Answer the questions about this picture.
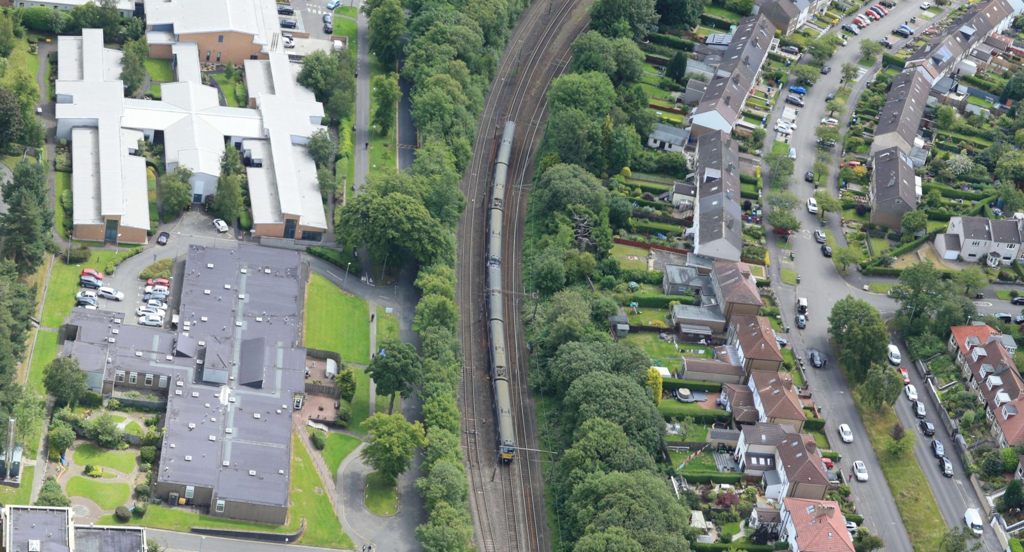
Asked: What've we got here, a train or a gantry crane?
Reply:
train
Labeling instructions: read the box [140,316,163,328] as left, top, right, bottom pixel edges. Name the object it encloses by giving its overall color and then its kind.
white vehicle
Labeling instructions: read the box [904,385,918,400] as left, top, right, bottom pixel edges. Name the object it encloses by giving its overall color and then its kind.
white car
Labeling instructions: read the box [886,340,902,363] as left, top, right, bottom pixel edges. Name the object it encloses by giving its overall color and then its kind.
white vehicle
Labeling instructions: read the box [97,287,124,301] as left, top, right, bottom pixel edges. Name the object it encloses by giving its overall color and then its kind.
white car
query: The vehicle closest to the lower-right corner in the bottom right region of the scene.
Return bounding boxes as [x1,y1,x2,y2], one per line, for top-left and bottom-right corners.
[963,507,984,533]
